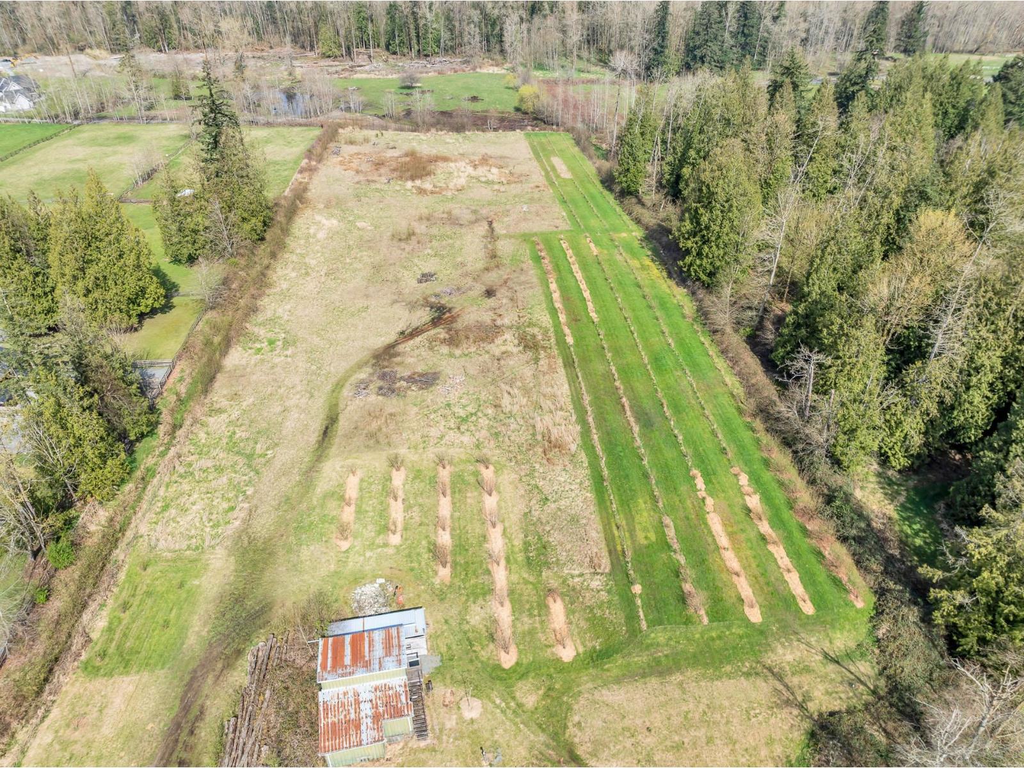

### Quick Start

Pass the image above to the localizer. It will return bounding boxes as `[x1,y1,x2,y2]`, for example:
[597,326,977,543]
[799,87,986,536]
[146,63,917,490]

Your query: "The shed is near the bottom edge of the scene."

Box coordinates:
[300,604,431,768]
